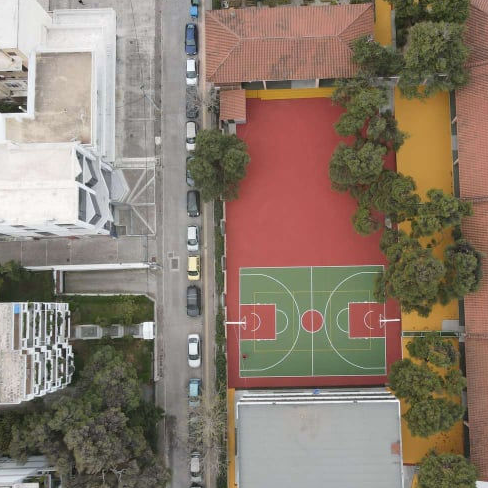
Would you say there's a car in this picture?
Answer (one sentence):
Yes, there is a car in the image.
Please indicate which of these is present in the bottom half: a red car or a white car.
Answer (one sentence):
The one visible in the bottom half is a white car.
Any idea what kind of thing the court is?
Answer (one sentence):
What you see as the court is a basketball court.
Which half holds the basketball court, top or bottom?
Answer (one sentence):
It is in the bottom half that the basketball court appears.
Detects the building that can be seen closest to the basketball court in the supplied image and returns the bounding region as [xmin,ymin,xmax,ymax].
[235,389,403,488]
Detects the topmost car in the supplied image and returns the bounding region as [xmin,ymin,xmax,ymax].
[183,25,198,55]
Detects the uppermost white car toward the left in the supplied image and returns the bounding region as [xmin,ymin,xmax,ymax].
[183,59,198,87]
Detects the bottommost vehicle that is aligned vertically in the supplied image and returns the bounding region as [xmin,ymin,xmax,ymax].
[187,447,203,482]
